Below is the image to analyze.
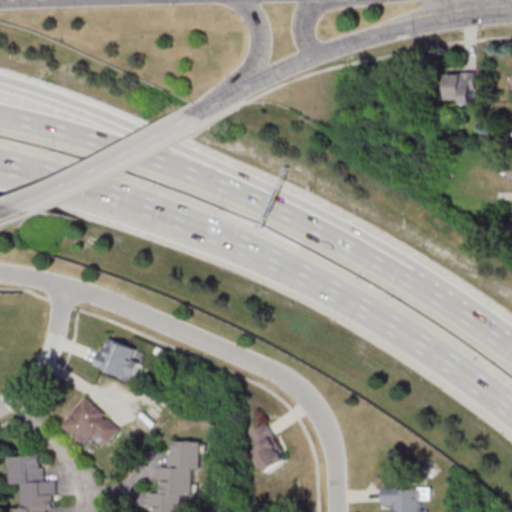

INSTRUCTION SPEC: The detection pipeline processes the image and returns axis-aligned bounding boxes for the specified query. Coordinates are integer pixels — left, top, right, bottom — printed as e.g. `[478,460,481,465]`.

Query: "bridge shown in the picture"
[0,104,202,226]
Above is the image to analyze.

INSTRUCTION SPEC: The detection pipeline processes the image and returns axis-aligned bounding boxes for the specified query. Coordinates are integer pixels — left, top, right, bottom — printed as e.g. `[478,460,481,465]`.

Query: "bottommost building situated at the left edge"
[6,458,56,512]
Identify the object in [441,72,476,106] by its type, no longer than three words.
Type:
house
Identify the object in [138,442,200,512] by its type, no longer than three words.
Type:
house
